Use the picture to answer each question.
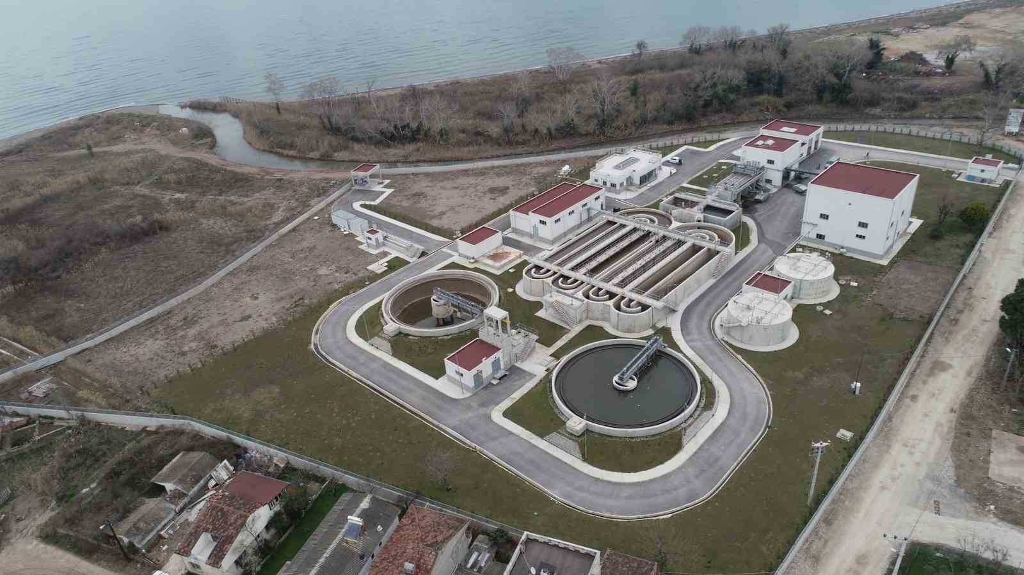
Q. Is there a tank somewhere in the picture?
Yes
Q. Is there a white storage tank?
Yes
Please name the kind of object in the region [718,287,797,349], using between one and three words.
storage tank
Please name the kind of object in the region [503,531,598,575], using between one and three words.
house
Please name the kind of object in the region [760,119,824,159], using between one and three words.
building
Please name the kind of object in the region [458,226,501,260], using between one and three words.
building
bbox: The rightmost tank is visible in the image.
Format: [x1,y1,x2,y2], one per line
[770,250,839,302]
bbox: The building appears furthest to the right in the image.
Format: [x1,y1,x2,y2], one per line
[965,157,1003,180]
